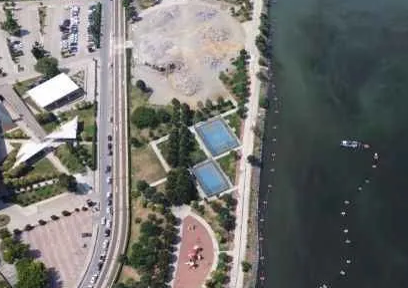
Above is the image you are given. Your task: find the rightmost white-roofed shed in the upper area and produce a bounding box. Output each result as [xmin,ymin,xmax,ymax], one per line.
[27,73,82,111]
